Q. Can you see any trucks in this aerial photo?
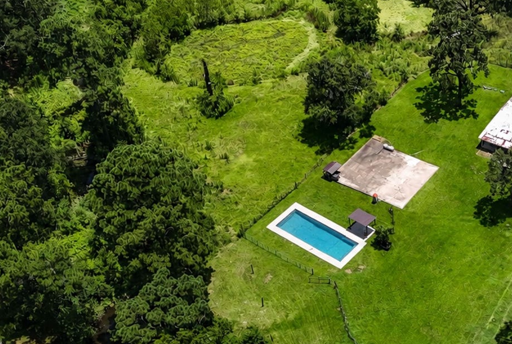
No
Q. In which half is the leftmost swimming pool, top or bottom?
bottom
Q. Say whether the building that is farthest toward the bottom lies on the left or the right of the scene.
right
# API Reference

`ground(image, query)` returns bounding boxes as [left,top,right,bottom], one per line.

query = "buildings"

[322,162,342,184]
[347,208,377,239]
[473,98,512,159]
